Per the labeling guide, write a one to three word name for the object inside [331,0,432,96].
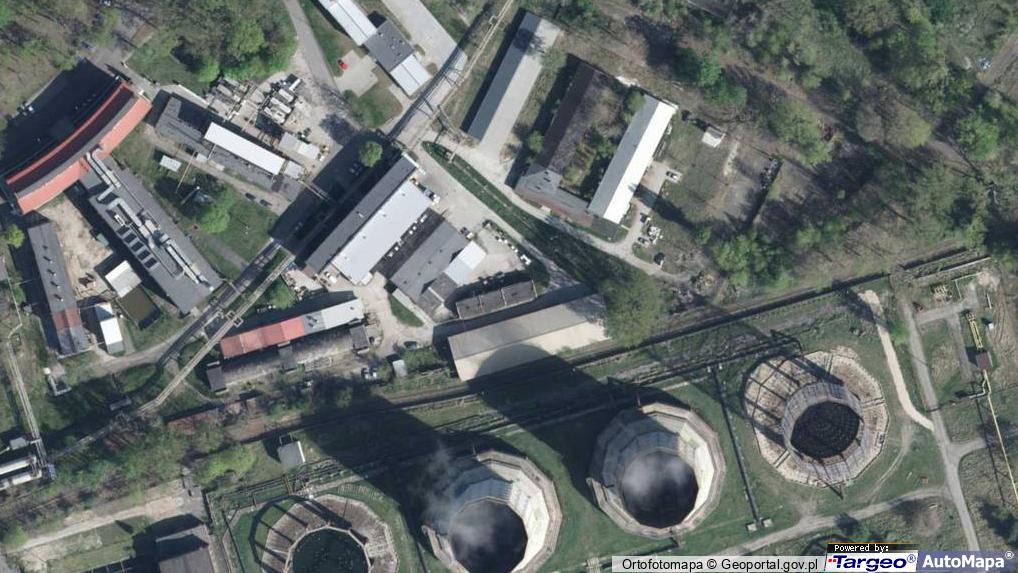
building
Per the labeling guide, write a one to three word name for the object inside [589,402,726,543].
cooling tower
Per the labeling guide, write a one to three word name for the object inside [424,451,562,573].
cooling tower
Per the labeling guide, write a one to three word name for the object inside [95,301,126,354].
shed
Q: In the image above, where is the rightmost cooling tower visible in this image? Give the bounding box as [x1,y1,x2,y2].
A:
[744,339,891,493]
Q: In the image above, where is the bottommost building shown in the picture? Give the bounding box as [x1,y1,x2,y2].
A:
[156,522,218,573]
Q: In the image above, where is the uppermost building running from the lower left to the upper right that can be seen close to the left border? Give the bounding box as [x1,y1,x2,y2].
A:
[8,75,154,215]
